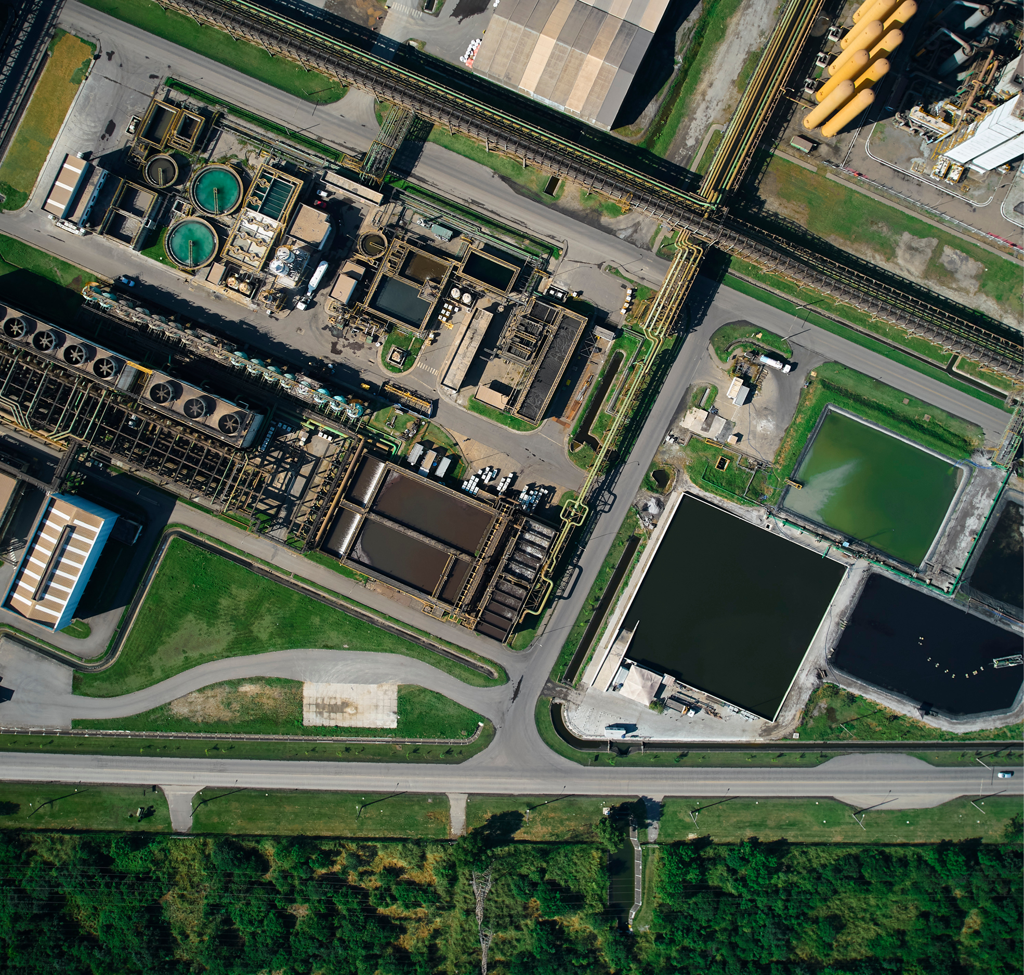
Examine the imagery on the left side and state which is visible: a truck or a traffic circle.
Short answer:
truck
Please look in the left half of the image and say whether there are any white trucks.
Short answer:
Yes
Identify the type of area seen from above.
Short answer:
industrial area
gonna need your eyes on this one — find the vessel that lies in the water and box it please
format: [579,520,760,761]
[989,652,1024,672]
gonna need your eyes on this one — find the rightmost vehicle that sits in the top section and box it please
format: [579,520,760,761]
[759,355,792,373]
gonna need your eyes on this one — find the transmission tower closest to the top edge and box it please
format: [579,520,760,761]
[473,862,491,928]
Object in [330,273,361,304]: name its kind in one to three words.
shed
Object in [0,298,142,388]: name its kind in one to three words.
cooling tower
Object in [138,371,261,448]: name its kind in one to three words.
cooling tower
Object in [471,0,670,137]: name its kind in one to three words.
warehouse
